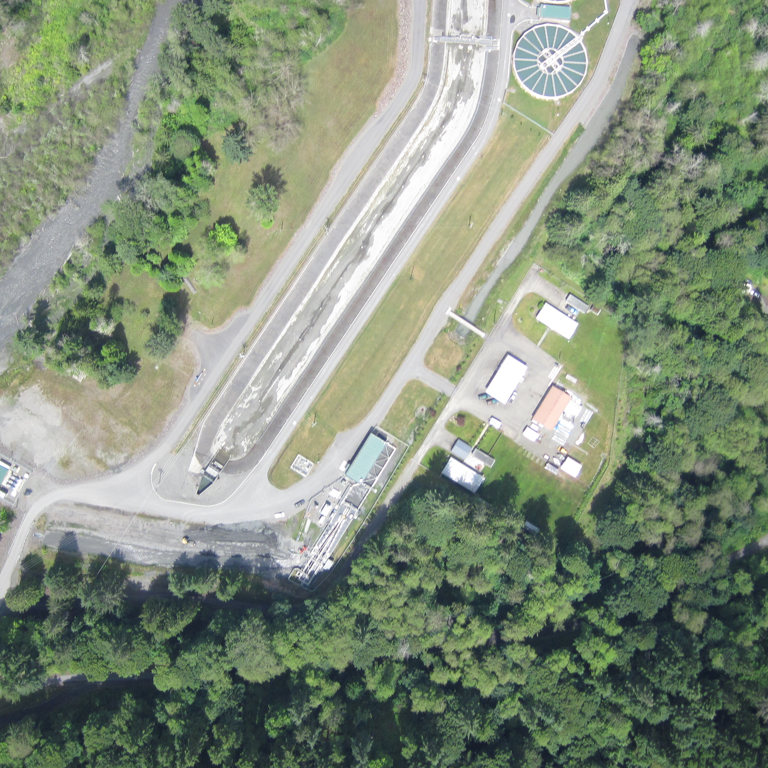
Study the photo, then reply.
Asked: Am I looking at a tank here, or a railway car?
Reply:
tank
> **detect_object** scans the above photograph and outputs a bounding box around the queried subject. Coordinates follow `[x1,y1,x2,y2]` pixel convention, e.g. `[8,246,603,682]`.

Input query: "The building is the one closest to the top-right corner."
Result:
[540,4,572,22]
